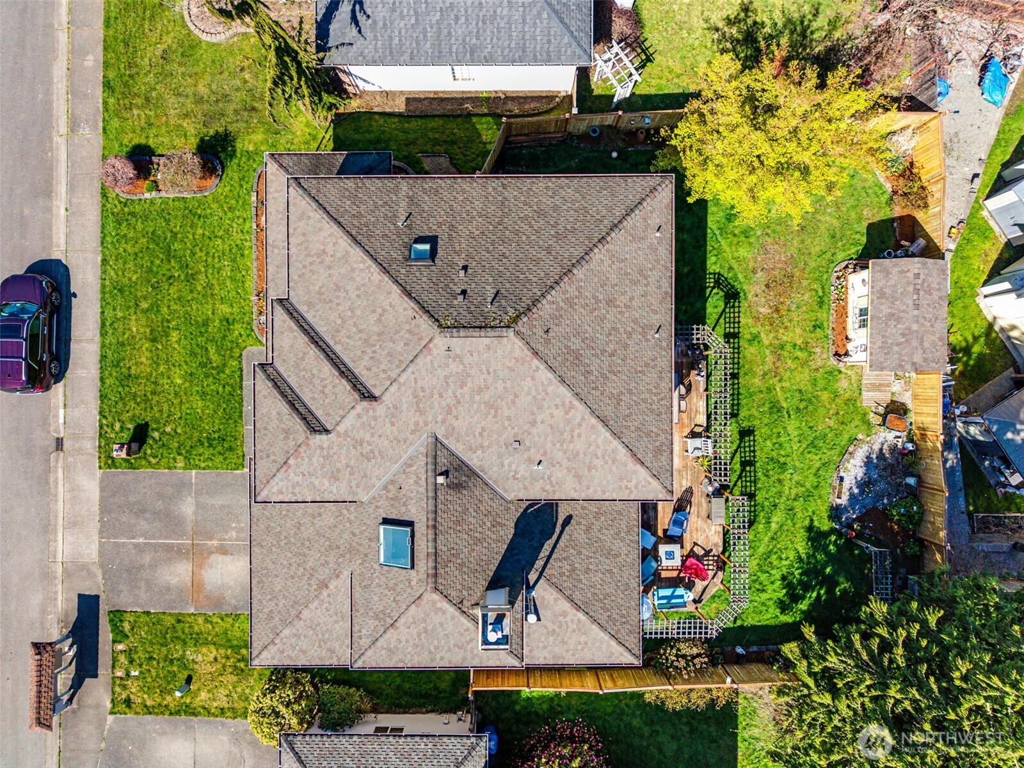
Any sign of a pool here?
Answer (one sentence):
No, there is no pool in the image.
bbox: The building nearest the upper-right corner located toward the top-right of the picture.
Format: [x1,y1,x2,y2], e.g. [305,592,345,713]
[984,177,1024,239]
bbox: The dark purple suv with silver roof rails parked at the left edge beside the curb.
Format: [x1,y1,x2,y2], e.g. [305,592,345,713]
[0,274,61,394]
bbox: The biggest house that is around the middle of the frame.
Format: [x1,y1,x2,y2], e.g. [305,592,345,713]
[248,151,675,671]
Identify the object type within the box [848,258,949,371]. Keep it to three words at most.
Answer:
shed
